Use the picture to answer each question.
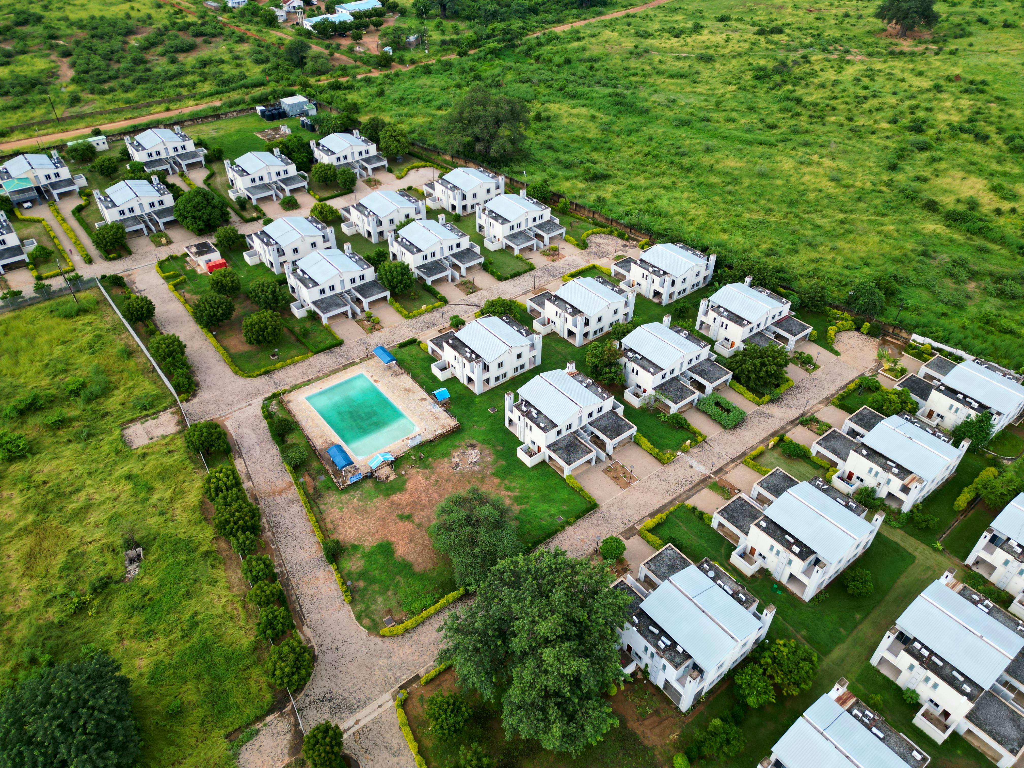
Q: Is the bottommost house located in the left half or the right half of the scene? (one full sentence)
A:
It is on the right.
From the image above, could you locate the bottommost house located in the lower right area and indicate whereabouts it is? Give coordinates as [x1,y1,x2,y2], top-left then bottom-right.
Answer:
[756,678,930,768]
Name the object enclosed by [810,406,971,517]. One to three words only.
house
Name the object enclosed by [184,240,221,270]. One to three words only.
building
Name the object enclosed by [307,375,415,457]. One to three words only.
swimming pool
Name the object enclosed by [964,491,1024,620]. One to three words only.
house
